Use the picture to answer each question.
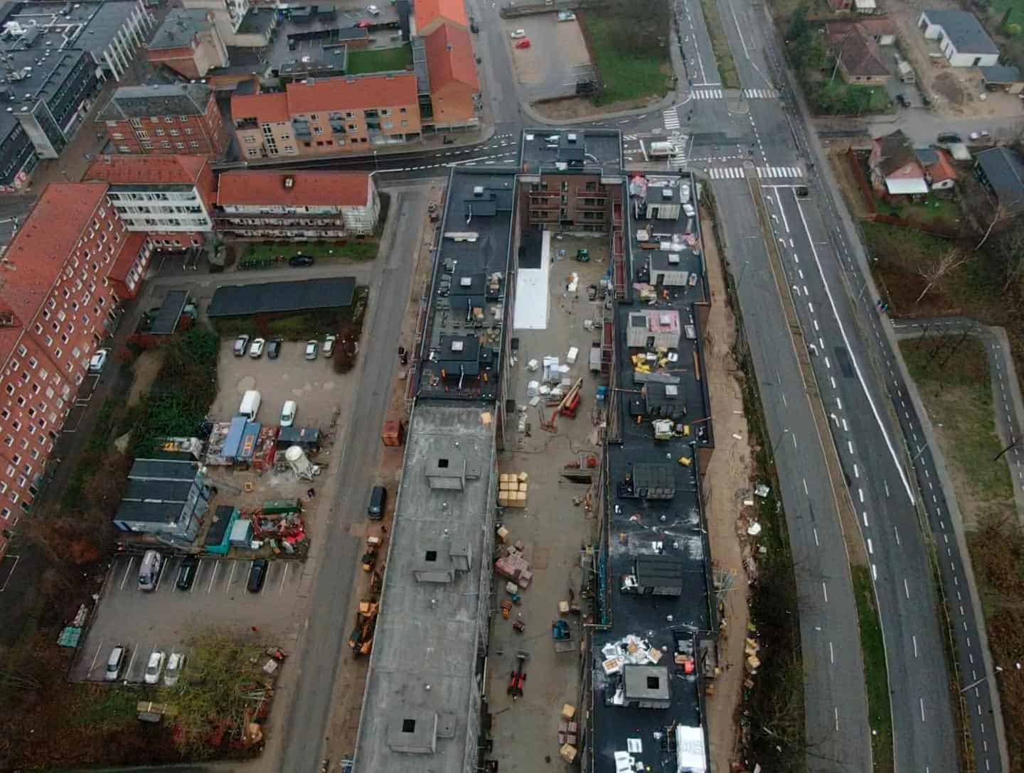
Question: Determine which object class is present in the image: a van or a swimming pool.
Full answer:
I can see a van in this picture.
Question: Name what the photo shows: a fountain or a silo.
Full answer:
I can see a silo in this picture.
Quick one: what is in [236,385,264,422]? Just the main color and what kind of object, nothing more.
white van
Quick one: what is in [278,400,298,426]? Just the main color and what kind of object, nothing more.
white car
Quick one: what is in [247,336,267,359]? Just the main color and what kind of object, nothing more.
white car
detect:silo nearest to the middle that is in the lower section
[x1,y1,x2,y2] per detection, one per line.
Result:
[286,451,320,487]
